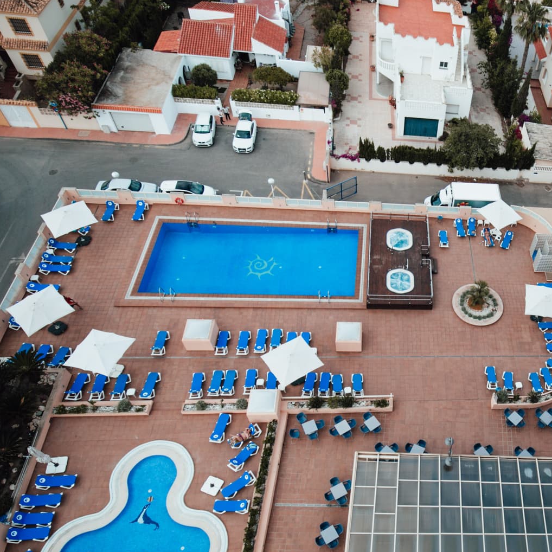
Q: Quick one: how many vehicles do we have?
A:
five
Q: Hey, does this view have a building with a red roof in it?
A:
Yes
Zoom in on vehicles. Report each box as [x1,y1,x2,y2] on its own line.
[426,182,501,216]
[231,106,257,156]
[190,115,216,150]
[93,173,157,198]
[157,175,216,200]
